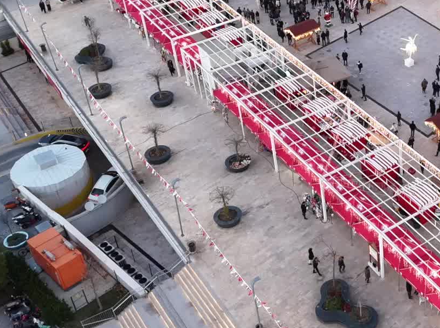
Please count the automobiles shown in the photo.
2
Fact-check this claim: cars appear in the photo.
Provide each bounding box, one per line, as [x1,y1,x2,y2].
[91,166,122,203]
[34,125,88,151]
